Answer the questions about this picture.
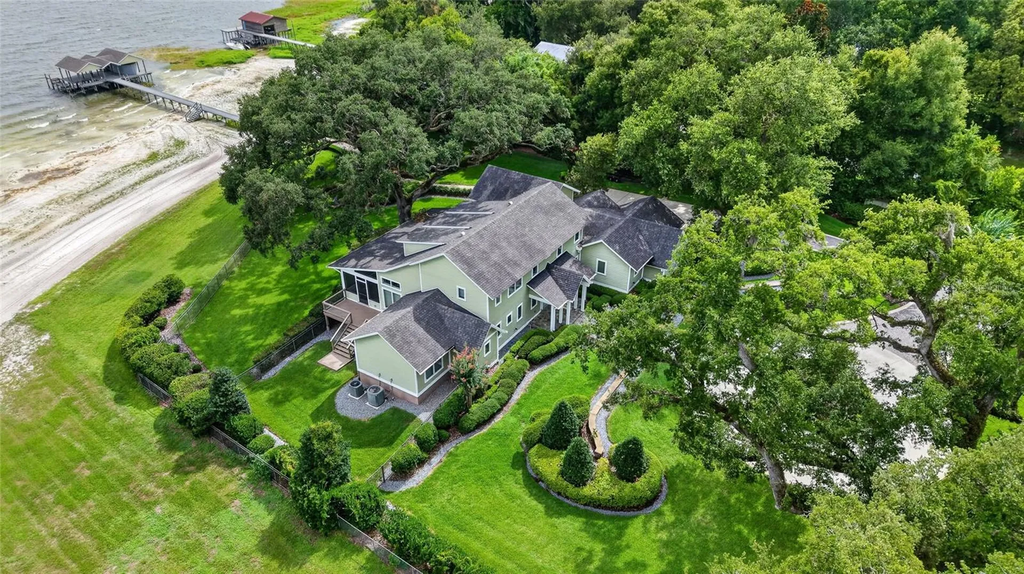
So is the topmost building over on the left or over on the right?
left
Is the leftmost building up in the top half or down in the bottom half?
top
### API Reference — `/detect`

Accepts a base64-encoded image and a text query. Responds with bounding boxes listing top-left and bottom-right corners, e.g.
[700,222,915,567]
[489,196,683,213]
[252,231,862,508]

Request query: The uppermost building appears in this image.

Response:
[221,11,293,43]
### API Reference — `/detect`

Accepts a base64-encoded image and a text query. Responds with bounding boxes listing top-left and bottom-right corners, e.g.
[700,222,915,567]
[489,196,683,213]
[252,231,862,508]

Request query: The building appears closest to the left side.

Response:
[55,47,154,96]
